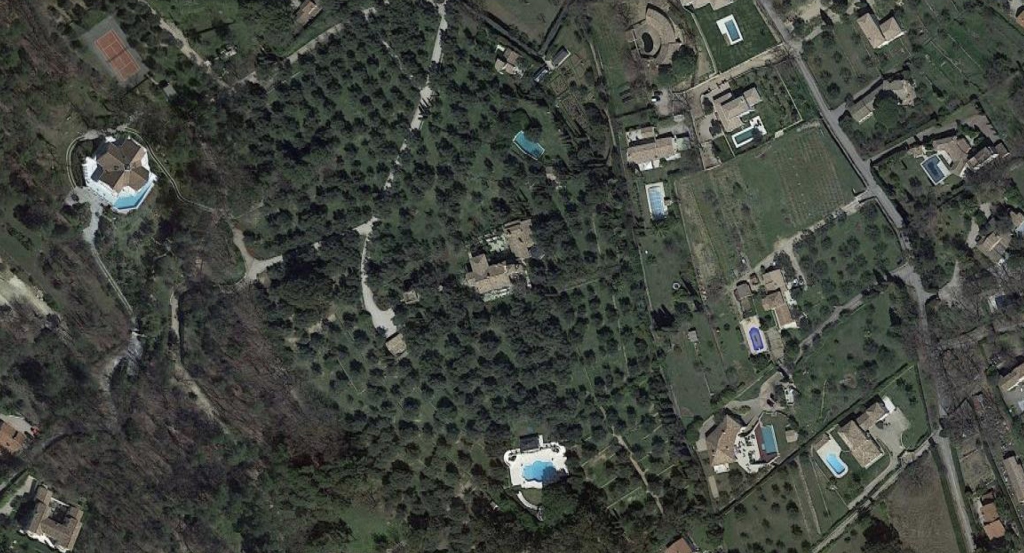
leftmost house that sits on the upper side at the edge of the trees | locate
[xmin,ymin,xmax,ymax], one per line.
[97,139,149,194]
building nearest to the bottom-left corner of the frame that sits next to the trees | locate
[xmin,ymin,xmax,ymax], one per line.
[29,486,83,553]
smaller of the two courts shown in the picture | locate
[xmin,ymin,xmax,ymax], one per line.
[96,31,140,80]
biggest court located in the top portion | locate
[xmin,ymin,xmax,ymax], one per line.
[80,12,150,88]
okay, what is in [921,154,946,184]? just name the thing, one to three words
swimming pool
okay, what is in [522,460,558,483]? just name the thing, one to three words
swimming pool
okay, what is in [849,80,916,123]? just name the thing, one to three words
house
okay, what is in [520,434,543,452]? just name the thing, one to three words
building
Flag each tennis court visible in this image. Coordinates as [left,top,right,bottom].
[96,31,140,80]
[80,12,150,88]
